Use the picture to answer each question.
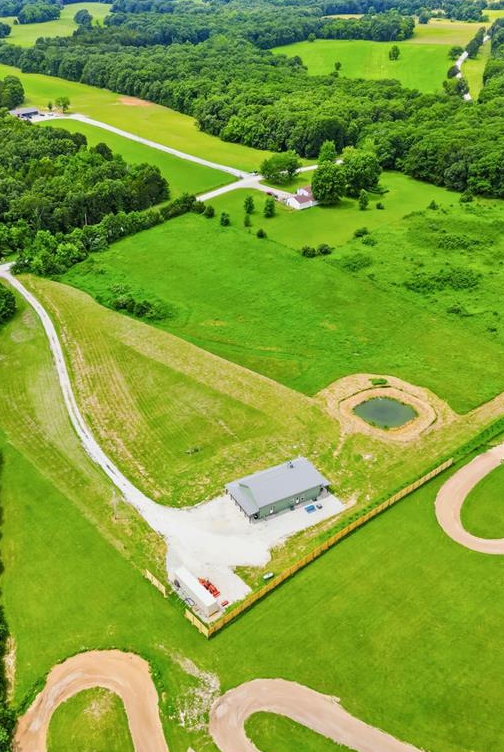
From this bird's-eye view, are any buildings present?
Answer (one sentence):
Yes, a building is visible in the scene.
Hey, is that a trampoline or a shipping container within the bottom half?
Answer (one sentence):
The feature located within the bottom half is a shipping container.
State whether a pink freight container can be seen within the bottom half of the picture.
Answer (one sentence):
No, no pink freight container can be made out within the bottom half of the picture.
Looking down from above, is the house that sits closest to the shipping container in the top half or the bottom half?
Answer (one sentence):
The house that sits closest to the shipping container is in the bottom half of the image.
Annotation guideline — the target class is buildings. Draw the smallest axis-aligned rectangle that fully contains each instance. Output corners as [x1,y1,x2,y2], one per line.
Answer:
[224,458,330,524]
[6,106,39,118]
[286,187,314,210]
